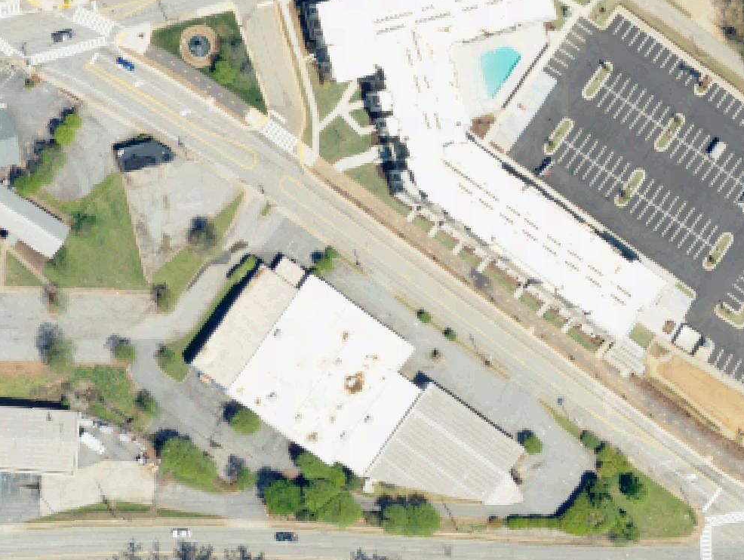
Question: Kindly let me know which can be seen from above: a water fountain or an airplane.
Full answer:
Looking from above, you can make out a water fountain.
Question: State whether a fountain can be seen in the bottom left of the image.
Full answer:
No, no fountain can be made out in the bottom left of the image.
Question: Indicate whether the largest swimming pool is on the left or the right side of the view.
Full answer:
You can find the largest swimming pool on the right side of the picture.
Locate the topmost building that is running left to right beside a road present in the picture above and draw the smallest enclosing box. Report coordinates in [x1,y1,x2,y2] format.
[118,144,175,173]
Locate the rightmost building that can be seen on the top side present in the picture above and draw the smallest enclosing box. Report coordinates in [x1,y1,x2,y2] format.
[298,0,671,343]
